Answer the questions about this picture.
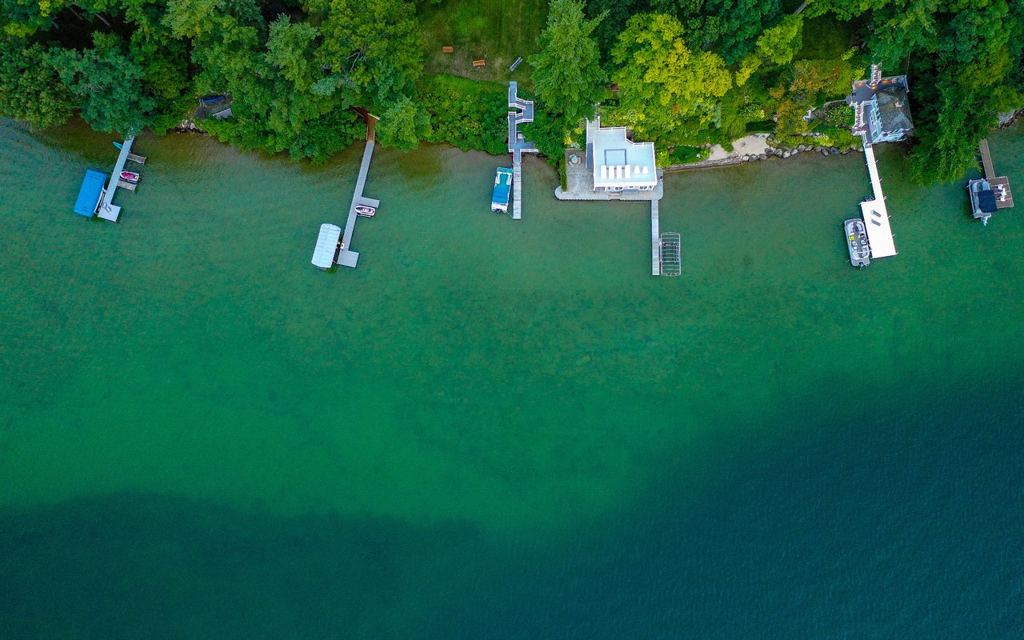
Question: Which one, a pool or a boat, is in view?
boat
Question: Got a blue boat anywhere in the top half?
Yes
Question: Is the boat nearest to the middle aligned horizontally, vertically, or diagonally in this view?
vertically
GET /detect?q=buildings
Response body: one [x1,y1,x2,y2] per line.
[587,115,658,196]
[870,87,915,142]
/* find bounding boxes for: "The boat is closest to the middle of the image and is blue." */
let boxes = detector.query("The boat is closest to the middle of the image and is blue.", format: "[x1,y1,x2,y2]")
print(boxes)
[492,166,513,215]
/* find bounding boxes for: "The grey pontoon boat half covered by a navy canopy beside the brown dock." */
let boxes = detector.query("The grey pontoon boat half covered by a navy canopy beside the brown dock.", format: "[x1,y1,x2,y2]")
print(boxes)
[972,178,1002,221]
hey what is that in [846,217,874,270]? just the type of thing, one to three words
boat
